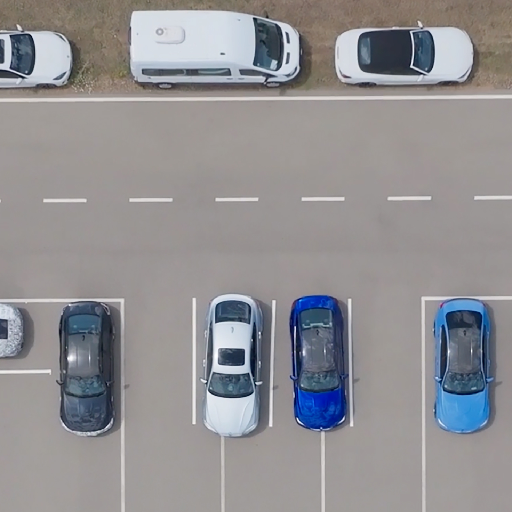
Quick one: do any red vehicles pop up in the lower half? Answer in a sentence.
No, I can find no red vehicle in the lower half.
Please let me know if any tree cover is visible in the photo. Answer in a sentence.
No, there is no tree cover in the image.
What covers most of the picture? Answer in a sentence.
For the most part, this view shows paved ground.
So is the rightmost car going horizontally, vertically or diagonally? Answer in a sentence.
In this picture, the rightmost car is oriented vertically.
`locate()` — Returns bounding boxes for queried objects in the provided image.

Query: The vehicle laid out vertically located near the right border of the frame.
[432,298,497,435]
